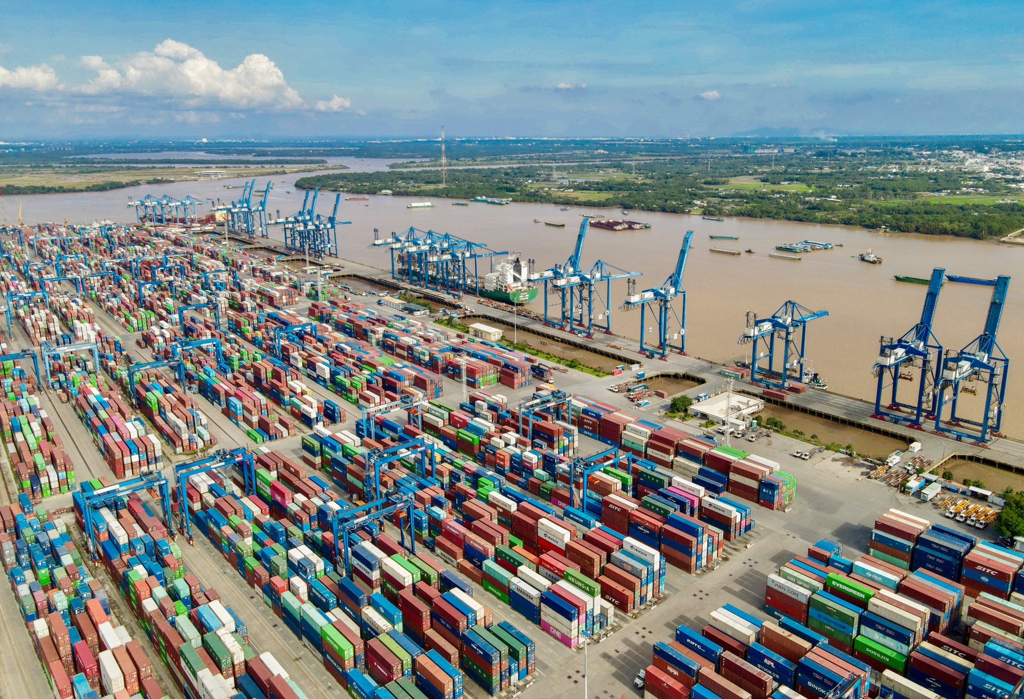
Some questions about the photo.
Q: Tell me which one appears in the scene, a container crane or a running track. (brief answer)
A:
container crane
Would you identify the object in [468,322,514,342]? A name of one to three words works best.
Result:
building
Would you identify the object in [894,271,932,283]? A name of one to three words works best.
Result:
ship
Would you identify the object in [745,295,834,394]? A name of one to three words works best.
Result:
container crane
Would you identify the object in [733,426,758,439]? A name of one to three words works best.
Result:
vehicle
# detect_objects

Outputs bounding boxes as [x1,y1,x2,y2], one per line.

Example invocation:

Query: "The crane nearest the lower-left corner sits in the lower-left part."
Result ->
[80,466,179,567]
